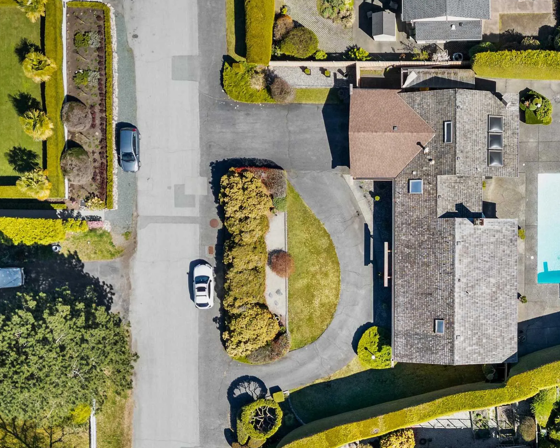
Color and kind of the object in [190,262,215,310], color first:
white car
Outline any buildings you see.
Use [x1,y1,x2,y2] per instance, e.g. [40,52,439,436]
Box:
[401,0,491,42]
[373,11,396,41]
[348,83,519,366]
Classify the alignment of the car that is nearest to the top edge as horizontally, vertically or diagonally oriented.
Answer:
vertically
